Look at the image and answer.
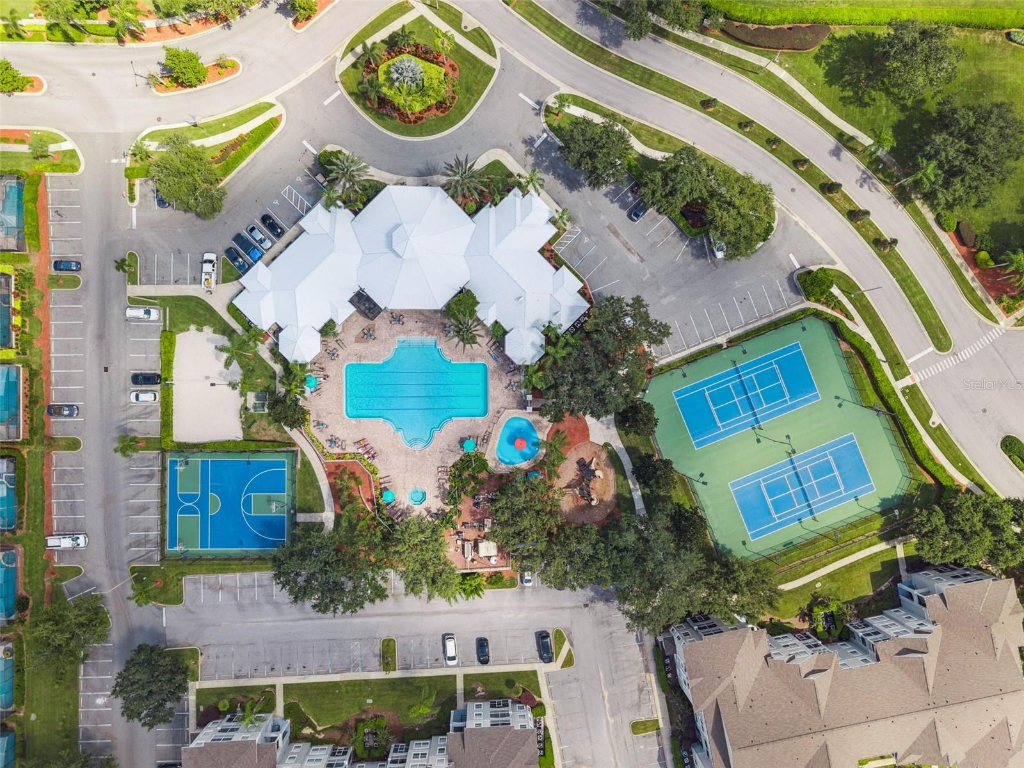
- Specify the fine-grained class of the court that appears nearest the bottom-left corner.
basketball court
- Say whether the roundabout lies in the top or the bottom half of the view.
top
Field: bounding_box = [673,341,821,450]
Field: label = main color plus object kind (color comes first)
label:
blue tennis court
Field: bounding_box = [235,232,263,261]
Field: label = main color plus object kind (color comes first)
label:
blue truck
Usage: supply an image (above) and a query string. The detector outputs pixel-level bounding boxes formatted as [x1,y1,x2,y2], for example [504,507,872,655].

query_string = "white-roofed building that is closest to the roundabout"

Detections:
[232,186,591,365]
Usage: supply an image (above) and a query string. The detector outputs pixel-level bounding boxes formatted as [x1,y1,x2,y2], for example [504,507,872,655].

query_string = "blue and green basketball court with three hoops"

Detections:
[165,451,297,559]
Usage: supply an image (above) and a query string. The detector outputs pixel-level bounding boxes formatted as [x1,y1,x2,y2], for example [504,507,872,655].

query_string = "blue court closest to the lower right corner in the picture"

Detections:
[729,432,876,541]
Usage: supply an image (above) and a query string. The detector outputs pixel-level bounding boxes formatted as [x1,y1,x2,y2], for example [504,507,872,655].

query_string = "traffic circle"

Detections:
[334,0,500,140]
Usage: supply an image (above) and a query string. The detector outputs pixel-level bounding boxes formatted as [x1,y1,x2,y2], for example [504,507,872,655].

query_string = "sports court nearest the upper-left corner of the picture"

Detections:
[172,325,243,442]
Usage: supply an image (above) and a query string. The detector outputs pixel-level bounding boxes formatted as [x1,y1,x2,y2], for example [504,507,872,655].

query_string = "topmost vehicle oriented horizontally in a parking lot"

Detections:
[54,259,83,272]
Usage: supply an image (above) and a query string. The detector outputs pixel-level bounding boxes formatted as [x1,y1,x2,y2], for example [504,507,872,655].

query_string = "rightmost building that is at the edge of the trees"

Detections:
[674,568,1024,768]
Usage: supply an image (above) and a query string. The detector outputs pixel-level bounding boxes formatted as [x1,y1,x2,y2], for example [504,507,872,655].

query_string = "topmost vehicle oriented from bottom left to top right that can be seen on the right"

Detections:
[627,197,649,223]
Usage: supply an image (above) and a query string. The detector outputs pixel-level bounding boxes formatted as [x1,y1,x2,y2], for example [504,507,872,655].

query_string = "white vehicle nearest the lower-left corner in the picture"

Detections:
[47,534,87,550]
